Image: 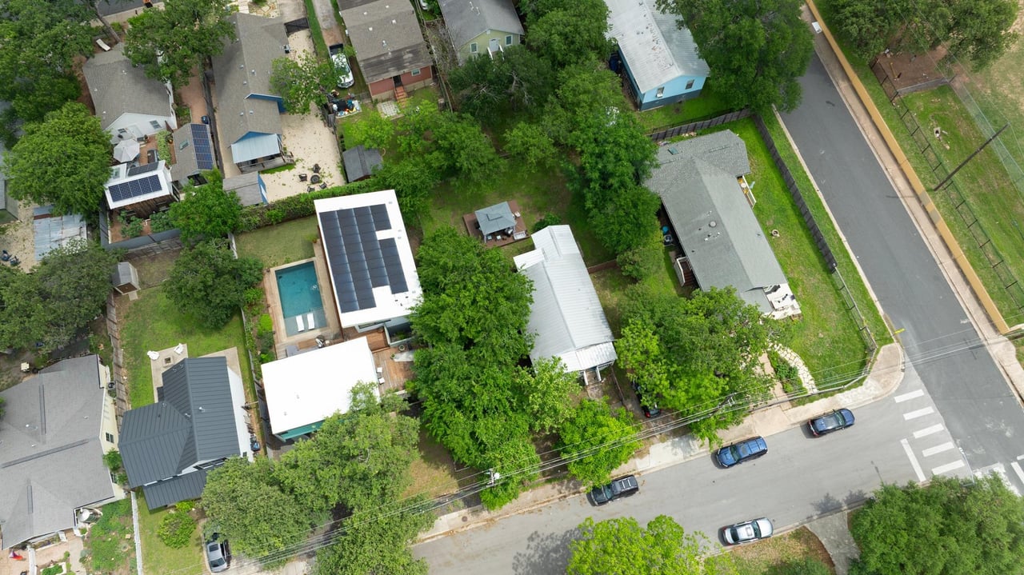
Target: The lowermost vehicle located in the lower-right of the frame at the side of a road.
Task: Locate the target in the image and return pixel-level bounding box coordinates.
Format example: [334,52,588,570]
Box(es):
[720,516,774,548]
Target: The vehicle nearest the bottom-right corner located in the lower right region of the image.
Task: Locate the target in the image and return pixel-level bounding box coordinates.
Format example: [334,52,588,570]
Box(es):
[805,409,854,438]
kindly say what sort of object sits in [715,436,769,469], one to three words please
car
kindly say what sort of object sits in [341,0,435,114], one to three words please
house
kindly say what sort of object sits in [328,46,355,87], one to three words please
truck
